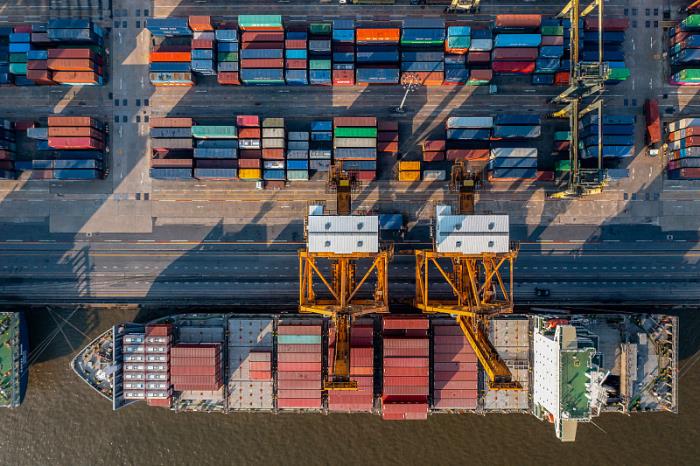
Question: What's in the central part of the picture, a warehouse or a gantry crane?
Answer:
gantry crane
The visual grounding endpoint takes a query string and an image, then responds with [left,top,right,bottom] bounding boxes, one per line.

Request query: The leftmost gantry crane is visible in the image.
[297,160,395,391]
